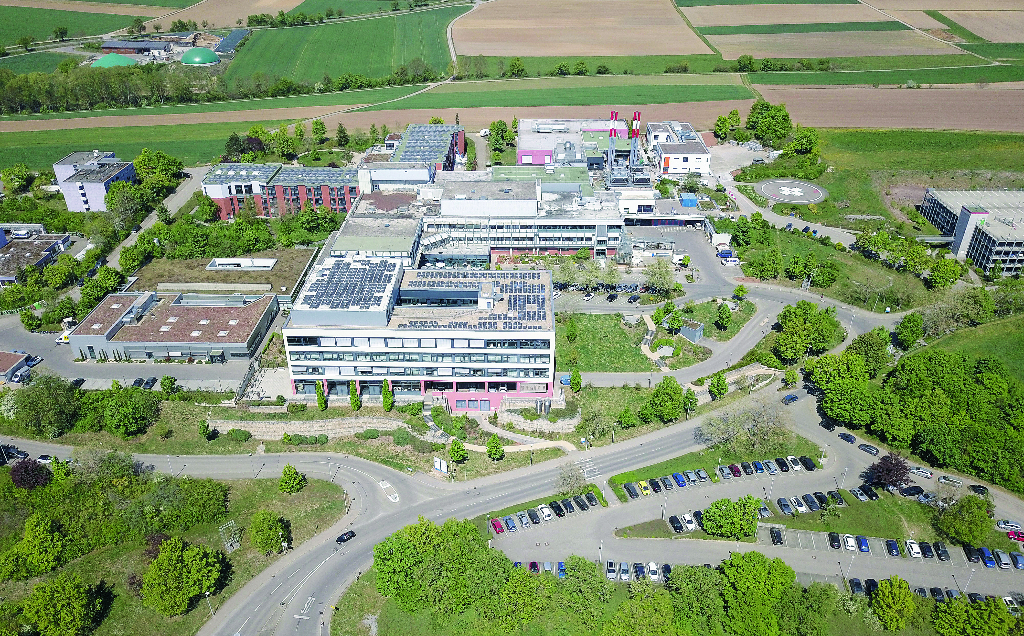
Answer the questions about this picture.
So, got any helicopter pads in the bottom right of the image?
No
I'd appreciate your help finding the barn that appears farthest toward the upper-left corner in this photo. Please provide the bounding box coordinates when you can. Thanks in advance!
[100,37,187,58]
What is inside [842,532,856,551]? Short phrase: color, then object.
white car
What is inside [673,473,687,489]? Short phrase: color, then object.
blue car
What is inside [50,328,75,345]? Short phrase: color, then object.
white vehicle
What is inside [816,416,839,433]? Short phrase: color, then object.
black car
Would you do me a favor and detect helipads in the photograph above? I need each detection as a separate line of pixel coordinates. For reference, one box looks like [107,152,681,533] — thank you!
[753,177,830,206]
